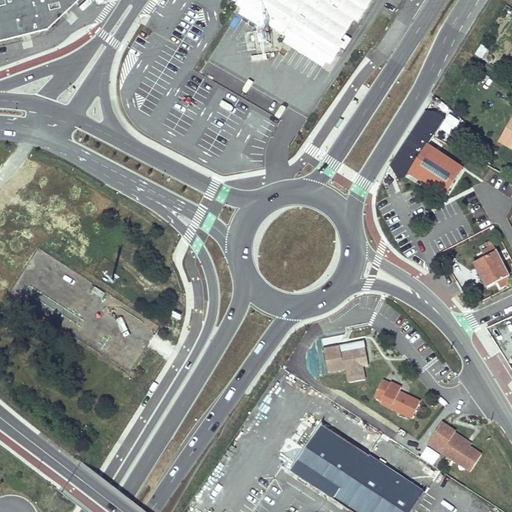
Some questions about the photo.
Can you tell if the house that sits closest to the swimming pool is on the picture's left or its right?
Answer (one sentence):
You can find the house that sits closest to the swimming pool on the right side of the picture.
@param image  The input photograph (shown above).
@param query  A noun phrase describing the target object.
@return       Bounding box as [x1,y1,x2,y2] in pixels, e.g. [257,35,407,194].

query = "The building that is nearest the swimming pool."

[324,340,369,383]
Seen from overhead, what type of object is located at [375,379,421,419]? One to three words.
house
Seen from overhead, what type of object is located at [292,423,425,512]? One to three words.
building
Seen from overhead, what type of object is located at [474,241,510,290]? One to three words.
house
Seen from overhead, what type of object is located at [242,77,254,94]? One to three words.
vehicle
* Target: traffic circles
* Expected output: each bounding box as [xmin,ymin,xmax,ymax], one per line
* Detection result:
[234,187,358,312]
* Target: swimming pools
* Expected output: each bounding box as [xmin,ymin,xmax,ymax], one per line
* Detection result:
[307,340,326,380]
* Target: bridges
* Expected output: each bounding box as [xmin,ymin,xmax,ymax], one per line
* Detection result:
[0,399,147,512]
